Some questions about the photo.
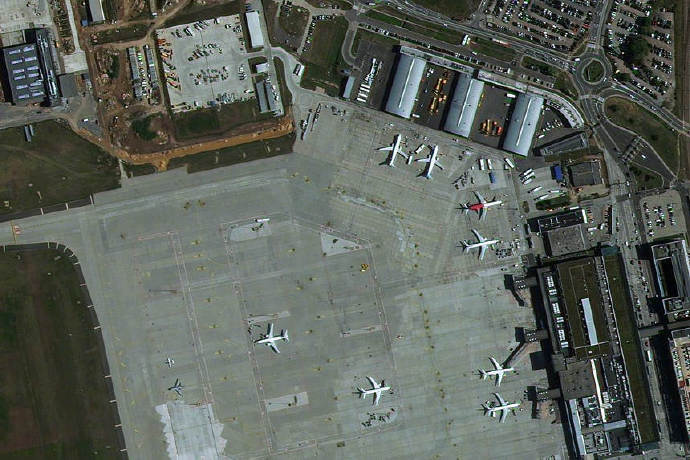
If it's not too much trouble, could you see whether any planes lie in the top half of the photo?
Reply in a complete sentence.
Yes, looking in the top half of the photo, one can make out a plane.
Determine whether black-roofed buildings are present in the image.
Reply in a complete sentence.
Yes, I can see a black-roofed building in this picture.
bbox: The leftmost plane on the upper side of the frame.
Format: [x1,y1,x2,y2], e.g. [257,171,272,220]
[379,134,410,167]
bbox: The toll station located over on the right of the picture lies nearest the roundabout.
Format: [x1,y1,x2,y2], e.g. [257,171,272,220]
[619,134,645,162]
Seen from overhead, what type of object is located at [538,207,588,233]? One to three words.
building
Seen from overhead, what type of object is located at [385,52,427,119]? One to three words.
hangar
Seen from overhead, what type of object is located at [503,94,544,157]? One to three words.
hangar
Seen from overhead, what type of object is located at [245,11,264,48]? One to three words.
building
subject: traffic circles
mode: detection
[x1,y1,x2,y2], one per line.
[573,50,615,92]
